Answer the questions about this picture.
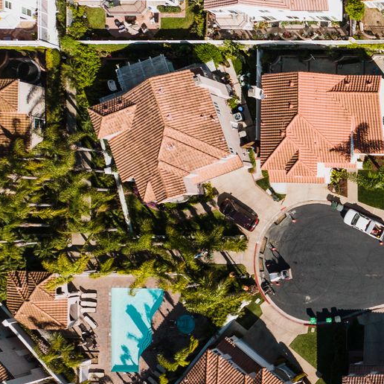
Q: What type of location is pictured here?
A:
residential area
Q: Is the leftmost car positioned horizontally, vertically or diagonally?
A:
diagonally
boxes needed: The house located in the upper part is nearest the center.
[87,67,250,213]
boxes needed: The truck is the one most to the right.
[341,209,384,241]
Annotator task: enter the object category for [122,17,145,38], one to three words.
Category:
umbrella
